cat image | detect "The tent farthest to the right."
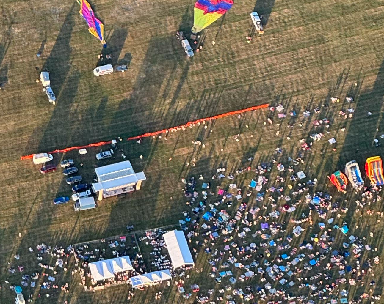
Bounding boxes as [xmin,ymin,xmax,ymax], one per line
[164,229,193,271]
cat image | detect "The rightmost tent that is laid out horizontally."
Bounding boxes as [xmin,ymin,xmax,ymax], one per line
[130,269,172,289]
